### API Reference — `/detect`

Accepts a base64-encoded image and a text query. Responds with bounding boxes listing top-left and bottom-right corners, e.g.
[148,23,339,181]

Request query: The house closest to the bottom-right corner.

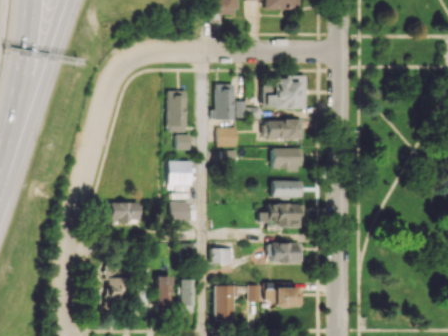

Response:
[277,288,303,309]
